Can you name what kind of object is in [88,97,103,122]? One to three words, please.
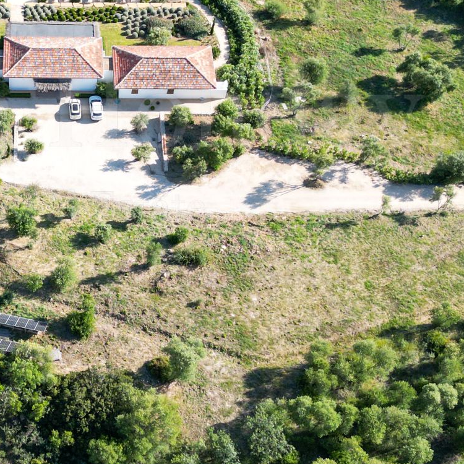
car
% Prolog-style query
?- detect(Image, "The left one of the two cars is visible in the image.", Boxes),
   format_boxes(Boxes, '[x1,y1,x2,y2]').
[67,100,82,122]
